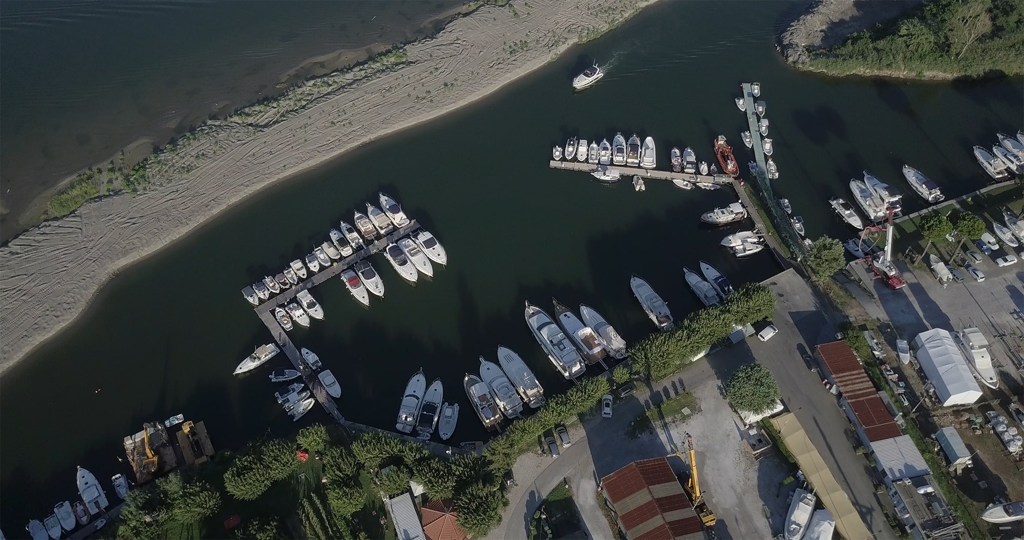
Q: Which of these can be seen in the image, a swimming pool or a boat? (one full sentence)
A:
Looking from above, you can make out a boat.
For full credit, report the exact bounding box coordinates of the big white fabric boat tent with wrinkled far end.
[912,328,982,404]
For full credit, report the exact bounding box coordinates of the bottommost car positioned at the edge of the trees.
[500,466,517,490]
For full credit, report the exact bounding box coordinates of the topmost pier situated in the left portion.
[255,219,422,317]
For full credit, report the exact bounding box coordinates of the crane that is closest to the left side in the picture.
[678,434,720,530]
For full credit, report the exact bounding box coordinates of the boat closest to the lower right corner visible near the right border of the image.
[981,498,1024,529]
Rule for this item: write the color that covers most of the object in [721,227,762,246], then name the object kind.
white boat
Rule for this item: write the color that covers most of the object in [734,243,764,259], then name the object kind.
white boat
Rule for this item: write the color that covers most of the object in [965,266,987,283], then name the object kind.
gray car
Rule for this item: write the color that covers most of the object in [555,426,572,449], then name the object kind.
gray car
